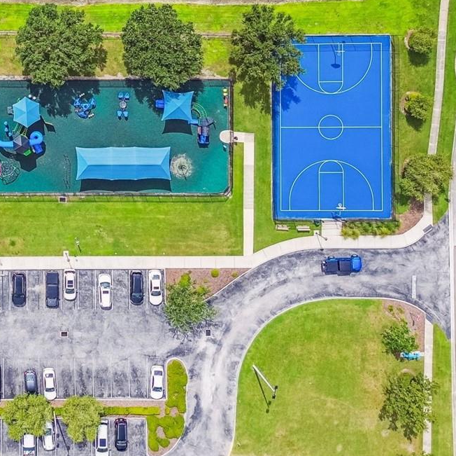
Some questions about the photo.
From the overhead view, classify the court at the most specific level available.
basketball court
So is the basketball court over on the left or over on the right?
right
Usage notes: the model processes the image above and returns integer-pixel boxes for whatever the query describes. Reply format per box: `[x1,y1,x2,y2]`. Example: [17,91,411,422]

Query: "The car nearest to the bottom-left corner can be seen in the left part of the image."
[22,436,37,456]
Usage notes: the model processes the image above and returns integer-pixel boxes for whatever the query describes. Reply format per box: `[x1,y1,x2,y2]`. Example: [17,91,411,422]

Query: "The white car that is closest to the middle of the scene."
[149,269,164,303]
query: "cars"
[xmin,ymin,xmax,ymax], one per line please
[320,256,360,273]
[97,274,113,308]
[150,365,165,397]
[43,367,57,399]
[42,419,57,449]
[62,269,78,300]
[22,436,37,456]
[114,418,129,449]
[129,271,145,304]
[149,269,164,303]
[11,272,26,306]
[95,421,110,456]
[23,369,38,398]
